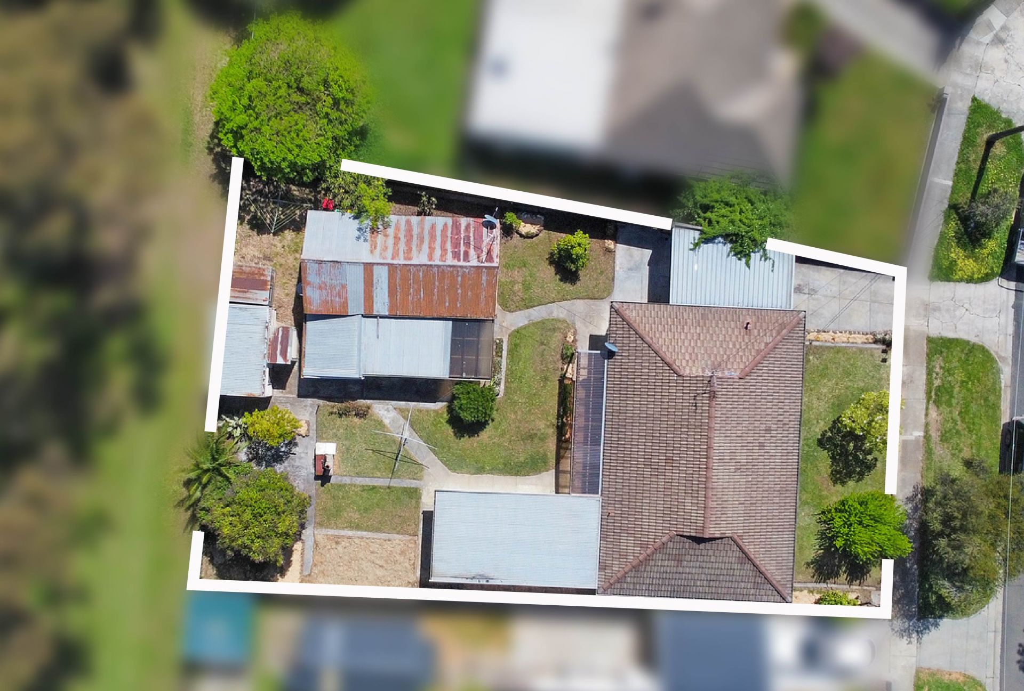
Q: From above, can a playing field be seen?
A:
No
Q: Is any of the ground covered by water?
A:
No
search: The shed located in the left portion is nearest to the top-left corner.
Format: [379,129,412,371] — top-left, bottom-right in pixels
[218,265,274,306]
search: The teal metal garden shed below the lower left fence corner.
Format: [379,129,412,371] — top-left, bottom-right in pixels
[183,592,263,663]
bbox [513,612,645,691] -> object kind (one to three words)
house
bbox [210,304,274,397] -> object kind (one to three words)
shed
